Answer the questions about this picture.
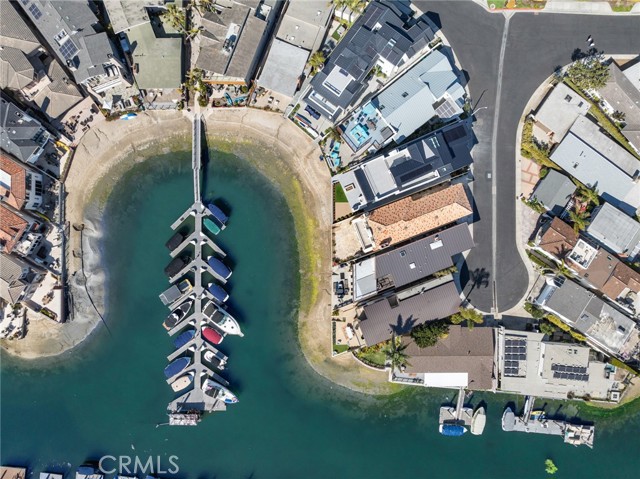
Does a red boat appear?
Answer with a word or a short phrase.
Yes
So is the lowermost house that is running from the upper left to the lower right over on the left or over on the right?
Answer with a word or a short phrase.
right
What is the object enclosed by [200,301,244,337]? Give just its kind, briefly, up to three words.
boat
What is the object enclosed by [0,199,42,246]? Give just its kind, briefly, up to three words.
house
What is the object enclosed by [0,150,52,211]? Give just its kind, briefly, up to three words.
house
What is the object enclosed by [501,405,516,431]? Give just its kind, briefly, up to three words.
boat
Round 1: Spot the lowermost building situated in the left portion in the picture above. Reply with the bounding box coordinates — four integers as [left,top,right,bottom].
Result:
[0,243,52,303]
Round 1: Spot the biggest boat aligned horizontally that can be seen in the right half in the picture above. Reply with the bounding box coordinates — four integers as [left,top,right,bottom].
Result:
[439,424,468,438]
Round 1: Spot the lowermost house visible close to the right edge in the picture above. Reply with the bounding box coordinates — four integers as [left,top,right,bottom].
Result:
[494,327,613,396]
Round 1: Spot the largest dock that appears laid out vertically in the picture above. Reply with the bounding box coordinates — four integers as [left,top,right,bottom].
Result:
[169,204,226,410]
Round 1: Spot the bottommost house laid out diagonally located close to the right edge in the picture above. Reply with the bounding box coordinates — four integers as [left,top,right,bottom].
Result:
[532,273,636,362]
